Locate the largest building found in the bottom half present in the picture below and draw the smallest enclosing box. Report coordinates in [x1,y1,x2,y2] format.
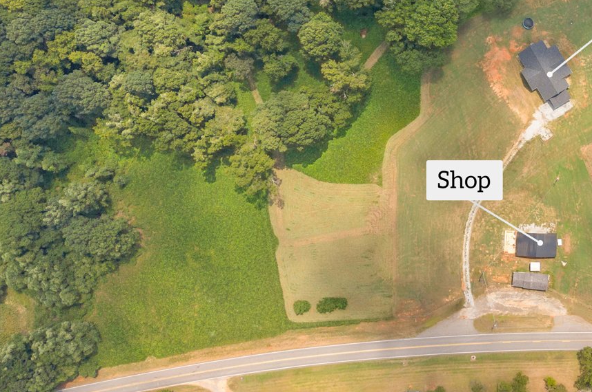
[515,233,556,260]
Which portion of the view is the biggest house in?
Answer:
top right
